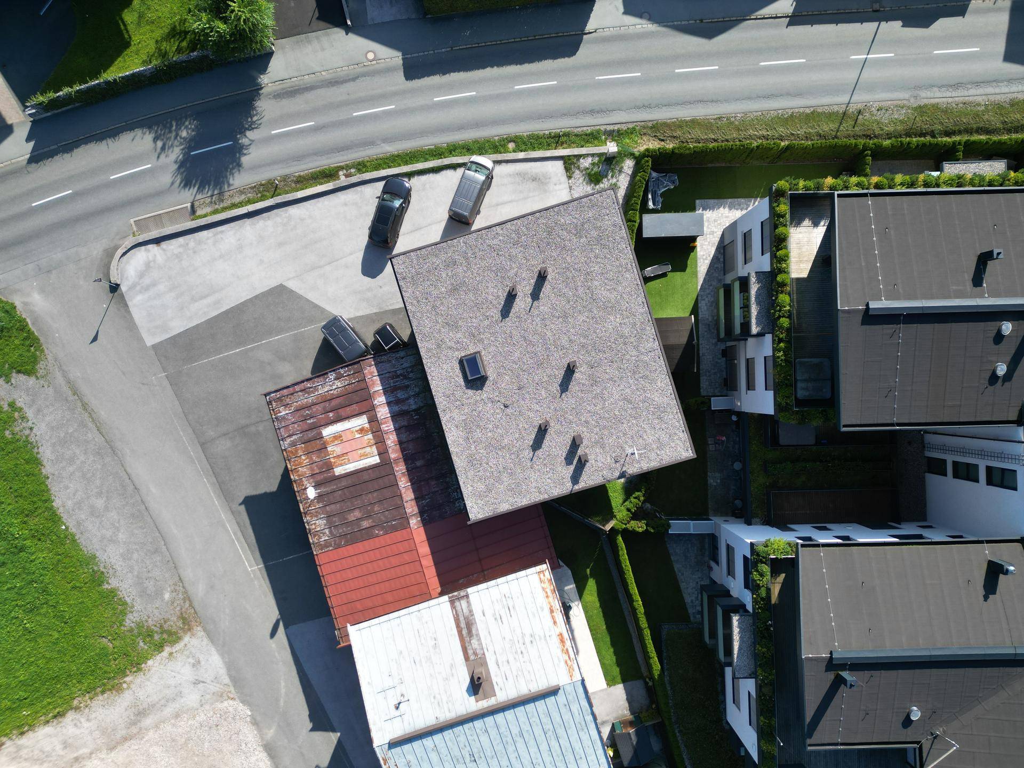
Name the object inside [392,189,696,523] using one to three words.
house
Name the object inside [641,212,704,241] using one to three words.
shed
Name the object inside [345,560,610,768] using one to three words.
house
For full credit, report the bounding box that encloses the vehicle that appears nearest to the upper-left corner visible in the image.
[364,176,409,252]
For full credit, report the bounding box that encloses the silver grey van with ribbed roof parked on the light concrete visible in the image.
[448,152,494,228]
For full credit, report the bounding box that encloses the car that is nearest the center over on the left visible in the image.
[375,321,416,354]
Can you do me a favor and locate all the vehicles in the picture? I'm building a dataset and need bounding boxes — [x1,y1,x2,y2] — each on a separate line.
[375,321,416,354]
[364,176,409,252]
[448,152,494,228]
[322,315,378,365]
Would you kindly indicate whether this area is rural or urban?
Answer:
urban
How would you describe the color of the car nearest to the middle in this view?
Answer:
black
